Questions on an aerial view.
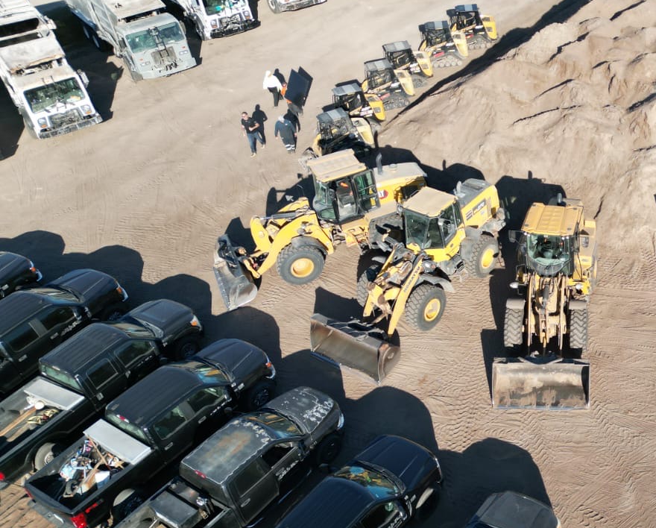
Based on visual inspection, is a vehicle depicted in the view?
Yes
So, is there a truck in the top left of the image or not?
Yes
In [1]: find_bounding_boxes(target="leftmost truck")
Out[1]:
[0,248,48,310]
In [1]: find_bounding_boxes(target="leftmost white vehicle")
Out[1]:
[0,0,101,133]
